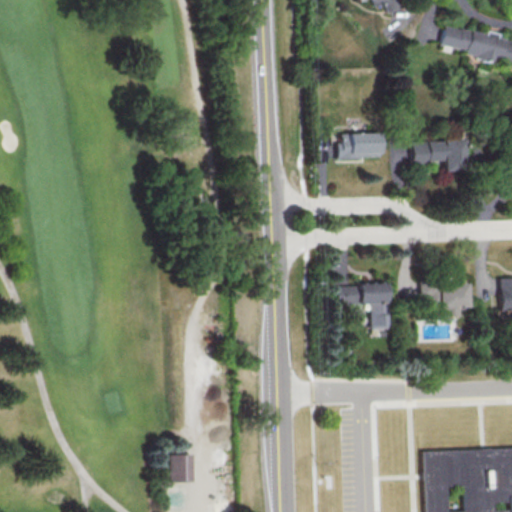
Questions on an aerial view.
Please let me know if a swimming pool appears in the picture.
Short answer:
Yes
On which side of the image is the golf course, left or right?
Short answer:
left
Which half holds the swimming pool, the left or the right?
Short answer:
right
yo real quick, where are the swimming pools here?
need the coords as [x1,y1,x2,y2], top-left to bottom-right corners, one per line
[417,318,459,344]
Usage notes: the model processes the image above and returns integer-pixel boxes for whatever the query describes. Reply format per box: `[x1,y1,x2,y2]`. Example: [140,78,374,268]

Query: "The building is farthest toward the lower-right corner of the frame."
[423,447,512,512]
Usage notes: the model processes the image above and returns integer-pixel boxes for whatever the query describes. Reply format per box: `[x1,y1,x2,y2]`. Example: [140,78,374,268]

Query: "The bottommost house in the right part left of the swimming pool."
[339,283,394,332]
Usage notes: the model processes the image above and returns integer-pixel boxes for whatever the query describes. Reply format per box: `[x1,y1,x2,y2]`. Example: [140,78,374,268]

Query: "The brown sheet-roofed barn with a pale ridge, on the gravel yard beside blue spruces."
[170,454,194,482]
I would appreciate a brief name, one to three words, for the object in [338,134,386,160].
house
